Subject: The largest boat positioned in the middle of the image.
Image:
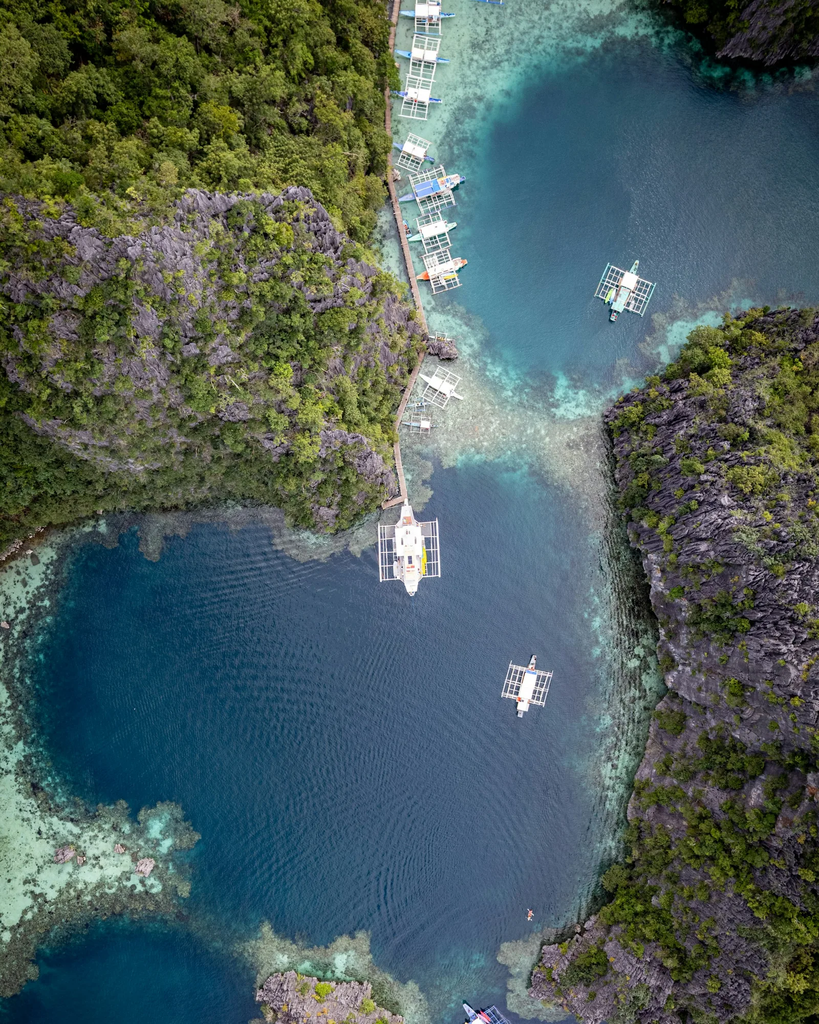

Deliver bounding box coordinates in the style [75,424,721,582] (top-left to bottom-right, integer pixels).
[374,499,441,596]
